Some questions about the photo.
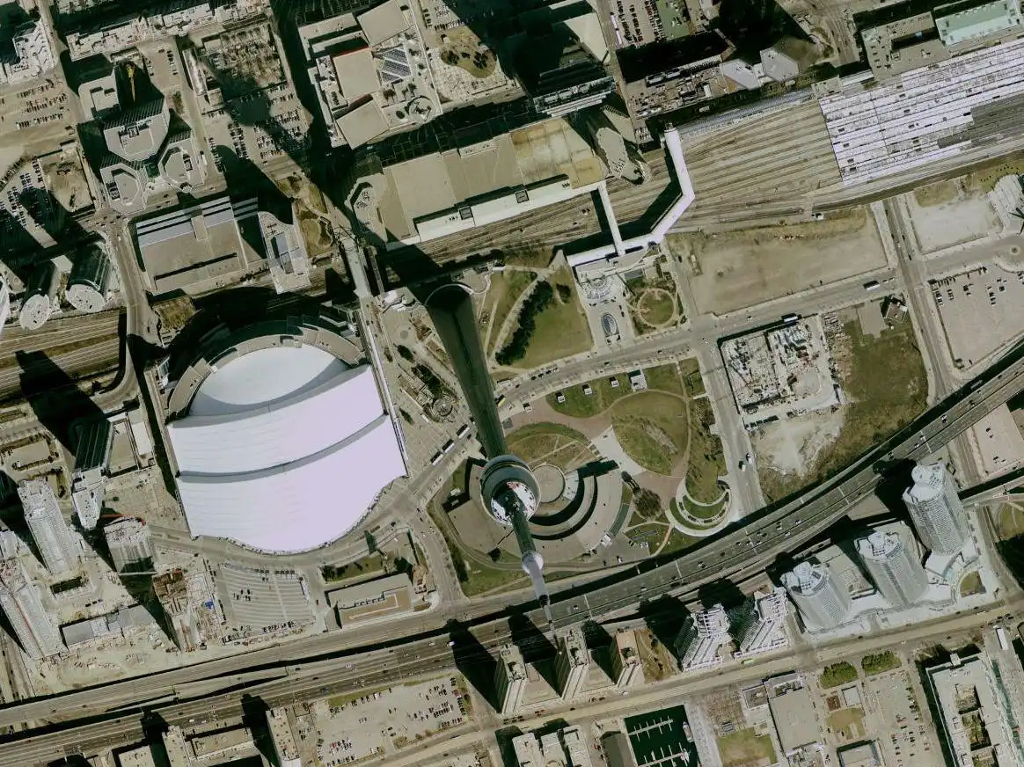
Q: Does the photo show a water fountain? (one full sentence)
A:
Yes, you can see a water fountain in this photo.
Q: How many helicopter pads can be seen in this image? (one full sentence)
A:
The picture shows no helicopter pads.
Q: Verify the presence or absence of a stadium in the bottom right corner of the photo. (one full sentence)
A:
No, there's no stadium to be seen in the bottom right corner of the photo.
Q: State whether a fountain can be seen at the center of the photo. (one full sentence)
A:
Yes, there is a fountain at the center of the photo.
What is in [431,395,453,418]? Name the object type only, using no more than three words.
fountain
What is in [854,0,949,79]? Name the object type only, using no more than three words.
building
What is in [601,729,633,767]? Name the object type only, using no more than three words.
building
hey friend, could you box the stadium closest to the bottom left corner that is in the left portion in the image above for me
[143,297,412,557]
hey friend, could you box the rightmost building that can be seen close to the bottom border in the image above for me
[922,644,1024,767]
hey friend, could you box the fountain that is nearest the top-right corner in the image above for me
[602,312,619,346]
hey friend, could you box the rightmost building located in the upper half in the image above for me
[930,0,1023,46]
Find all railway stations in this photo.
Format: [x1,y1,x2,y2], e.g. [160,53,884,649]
[821,38,1024,186]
